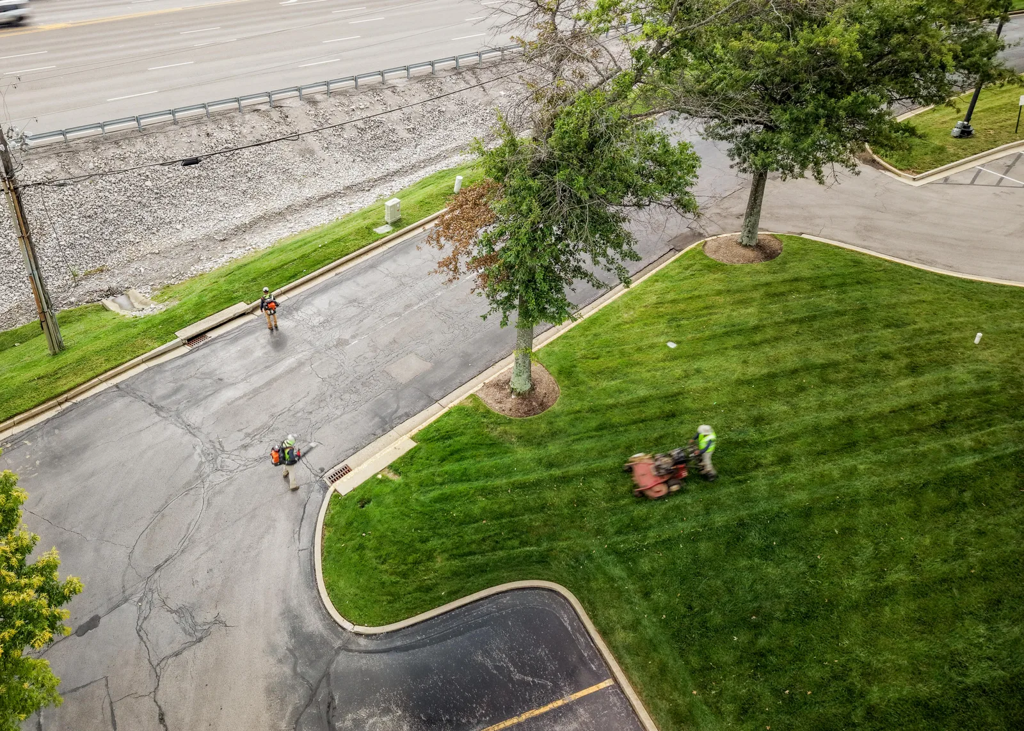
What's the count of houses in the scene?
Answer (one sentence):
There are no houses in the image.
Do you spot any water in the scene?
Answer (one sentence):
No, the scene doesn't show any water.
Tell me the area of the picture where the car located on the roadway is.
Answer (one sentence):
Look in the top left portion of the view to spot the car located on the roadway.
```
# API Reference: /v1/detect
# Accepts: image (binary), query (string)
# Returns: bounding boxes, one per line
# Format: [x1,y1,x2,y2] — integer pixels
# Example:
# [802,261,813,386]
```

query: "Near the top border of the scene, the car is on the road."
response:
[0,3,25,27]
